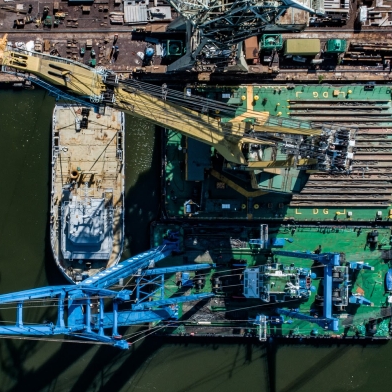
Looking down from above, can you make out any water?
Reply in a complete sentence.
Yes, water can be seen from above here.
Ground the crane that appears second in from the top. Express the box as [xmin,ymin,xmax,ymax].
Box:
[0,41,392,226]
